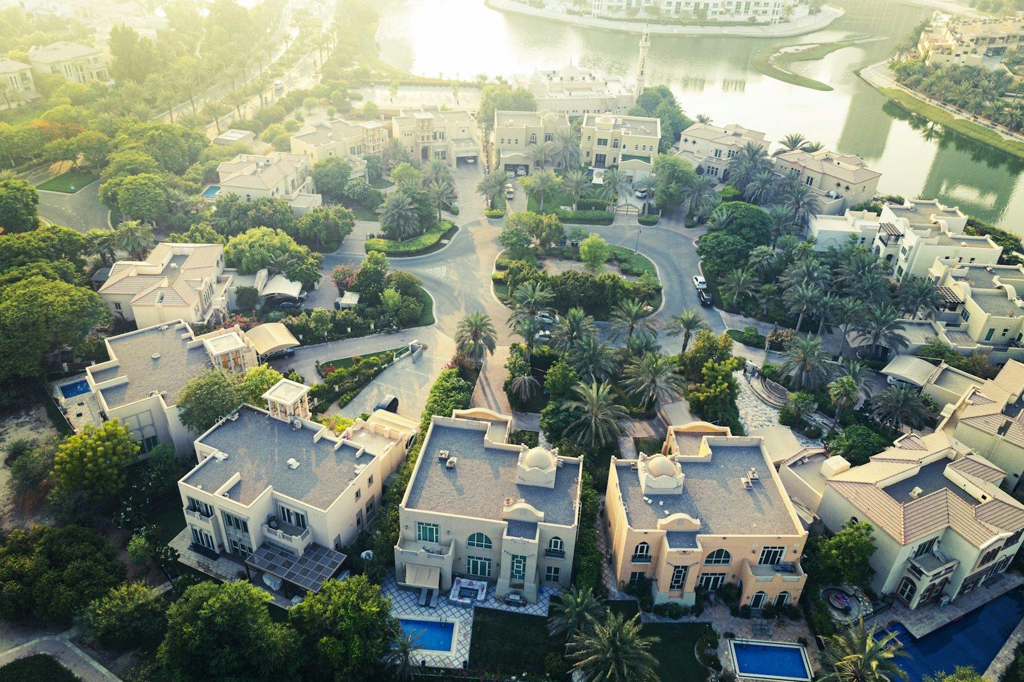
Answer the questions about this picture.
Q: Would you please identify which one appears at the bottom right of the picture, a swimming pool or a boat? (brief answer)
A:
swimming pool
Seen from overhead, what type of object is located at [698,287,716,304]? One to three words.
car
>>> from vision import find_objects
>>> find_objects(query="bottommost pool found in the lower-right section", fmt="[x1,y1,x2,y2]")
[728,633,815,682]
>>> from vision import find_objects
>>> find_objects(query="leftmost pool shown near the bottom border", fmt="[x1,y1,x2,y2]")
[380,612,460,658]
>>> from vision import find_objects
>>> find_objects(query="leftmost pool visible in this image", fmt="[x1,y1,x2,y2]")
[53,378,94,400]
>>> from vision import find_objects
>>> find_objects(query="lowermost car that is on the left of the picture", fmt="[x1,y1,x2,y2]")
[371,393,401,414]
